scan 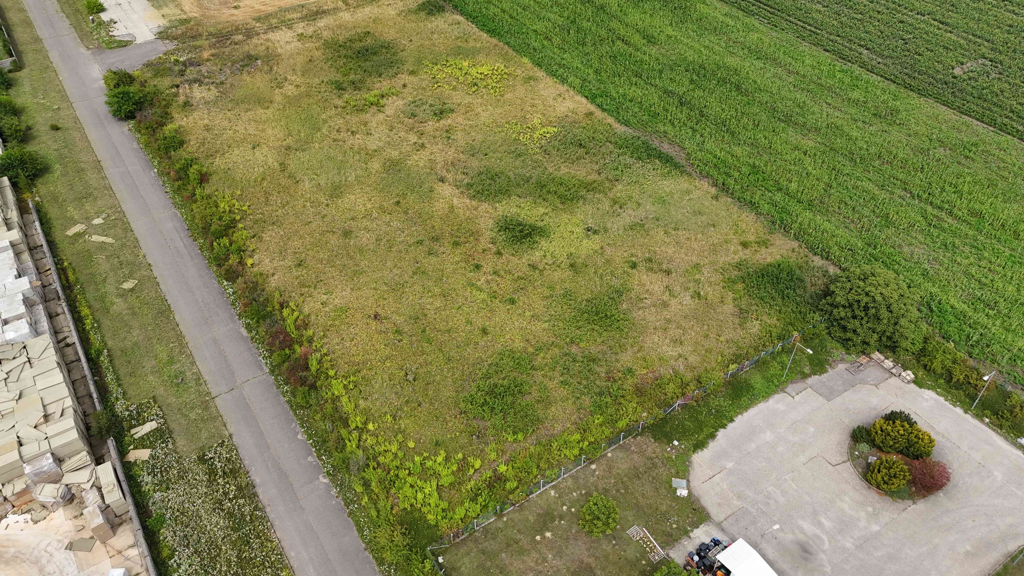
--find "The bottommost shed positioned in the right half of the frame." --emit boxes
[713,538,780,576]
